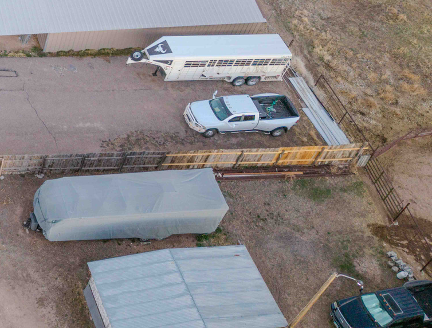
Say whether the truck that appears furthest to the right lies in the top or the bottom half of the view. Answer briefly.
bottom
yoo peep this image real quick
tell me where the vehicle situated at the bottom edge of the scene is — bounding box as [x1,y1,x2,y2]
[322,270,432,328]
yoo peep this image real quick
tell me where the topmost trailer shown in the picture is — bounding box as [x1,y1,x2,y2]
[125,37,296,85]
